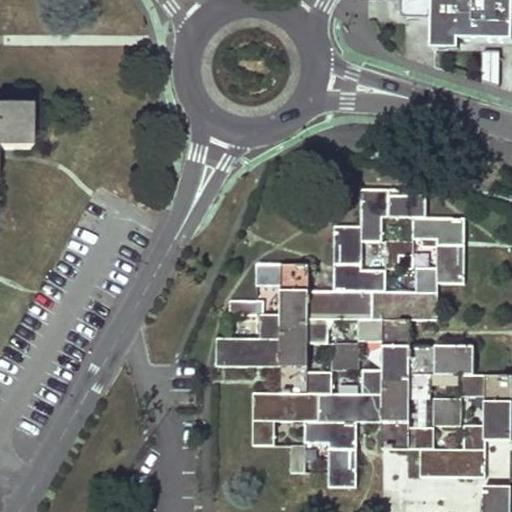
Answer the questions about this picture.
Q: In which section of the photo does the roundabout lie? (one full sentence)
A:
The roundabout appears toward the top of the photo.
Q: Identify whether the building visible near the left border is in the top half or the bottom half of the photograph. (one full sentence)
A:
The building visible near the left border sits in the top half of the picture.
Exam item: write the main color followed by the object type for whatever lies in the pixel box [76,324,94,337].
white vehicle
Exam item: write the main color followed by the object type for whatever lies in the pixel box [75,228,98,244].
white vehicle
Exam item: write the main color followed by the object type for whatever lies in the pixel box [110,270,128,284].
white car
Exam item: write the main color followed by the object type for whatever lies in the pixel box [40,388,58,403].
white car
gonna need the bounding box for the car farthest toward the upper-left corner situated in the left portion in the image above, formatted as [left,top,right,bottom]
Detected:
[86,202,104,216]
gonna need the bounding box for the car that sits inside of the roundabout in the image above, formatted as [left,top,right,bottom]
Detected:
[280,109,300,121]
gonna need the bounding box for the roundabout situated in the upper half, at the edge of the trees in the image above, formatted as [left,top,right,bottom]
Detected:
[172,0,331,146]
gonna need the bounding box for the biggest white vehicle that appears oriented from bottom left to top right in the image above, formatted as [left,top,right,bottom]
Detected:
[141,454,158,474]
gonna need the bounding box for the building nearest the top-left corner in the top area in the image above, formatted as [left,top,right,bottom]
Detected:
[0,99,36,152]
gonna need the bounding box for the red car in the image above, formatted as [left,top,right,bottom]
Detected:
[34,294,52,308]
